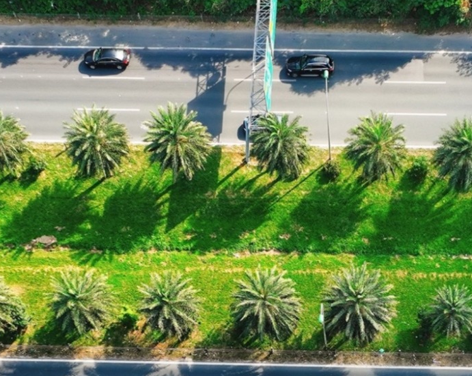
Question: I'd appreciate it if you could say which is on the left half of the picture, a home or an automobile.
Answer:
automobile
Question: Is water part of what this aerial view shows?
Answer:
No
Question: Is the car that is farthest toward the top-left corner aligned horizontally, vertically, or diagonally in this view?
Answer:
horizontally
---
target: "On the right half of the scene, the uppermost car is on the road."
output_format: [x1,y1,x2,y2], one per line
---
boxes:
[287,56,335,80]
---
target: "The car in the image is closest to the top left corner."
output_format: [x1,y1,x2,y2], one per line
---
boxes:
[83,48,133,71]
